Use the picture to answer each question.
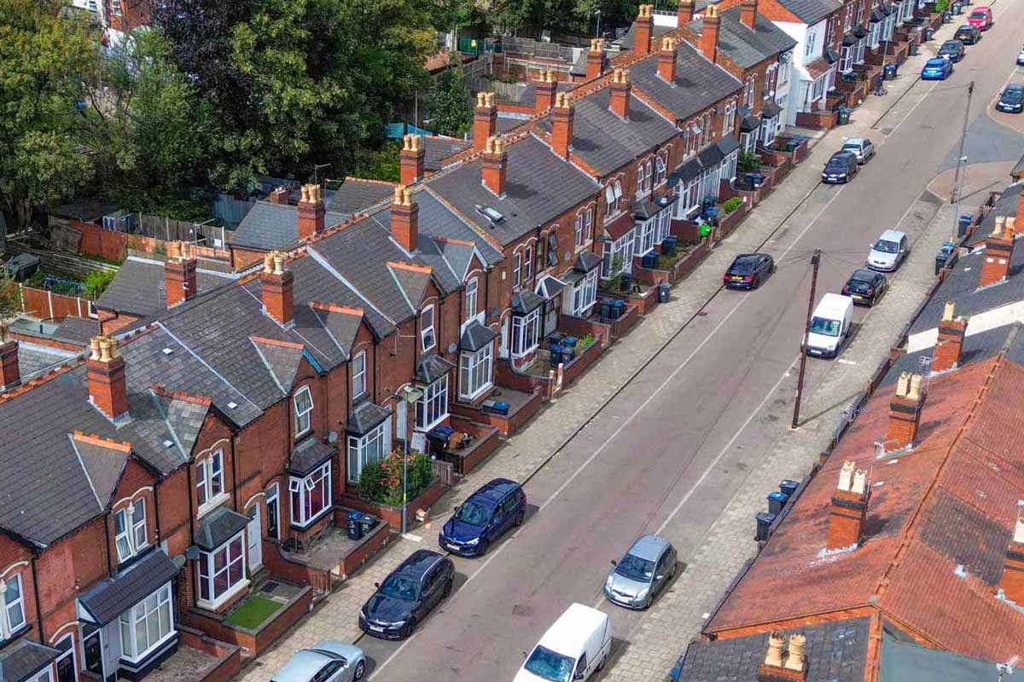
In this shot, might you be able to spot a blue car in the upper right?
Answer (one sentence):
Yes, a blue car appears in the upper right.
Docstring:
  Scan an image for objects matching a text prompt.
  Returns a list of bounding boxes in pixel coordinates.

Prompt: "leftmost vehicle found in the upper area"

[726,247,779,284]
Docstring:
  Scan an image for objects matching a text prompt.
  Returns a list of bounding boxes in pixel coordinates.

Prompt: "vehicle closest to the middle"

[451,474,538,552]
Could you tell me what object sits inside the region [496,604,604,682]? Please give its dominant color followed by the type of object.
white van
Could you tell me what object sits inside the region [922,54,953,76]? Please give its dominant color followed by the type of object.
blue car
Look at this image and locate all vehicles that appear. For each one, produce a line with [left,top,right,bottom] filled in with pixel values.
[451,474,538,552]
[365,545,468,636]
[496,604,604,682]
[998,81,1024,109]
[970,4,996,27]
[606,525,683,600]
[805,287,860,349]
[922,54,953,76]
[956,20,984,40]
[843,263,890,300]
[939,34,969,58]
[825,146,864,179]
[868,225,913,266]
[846,133,881,160]
[726,247,779,284]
